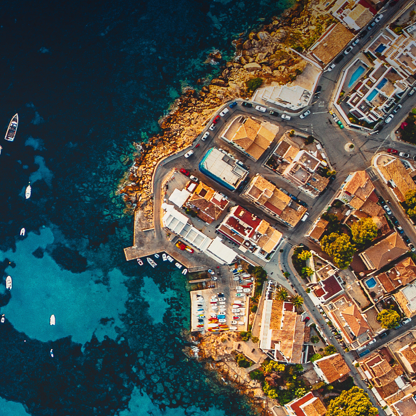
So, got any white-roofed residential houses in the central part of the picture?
Yes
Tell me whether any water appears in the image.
Yes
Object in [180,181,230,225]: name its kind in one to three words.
house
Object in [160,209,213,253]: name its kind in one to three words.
house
